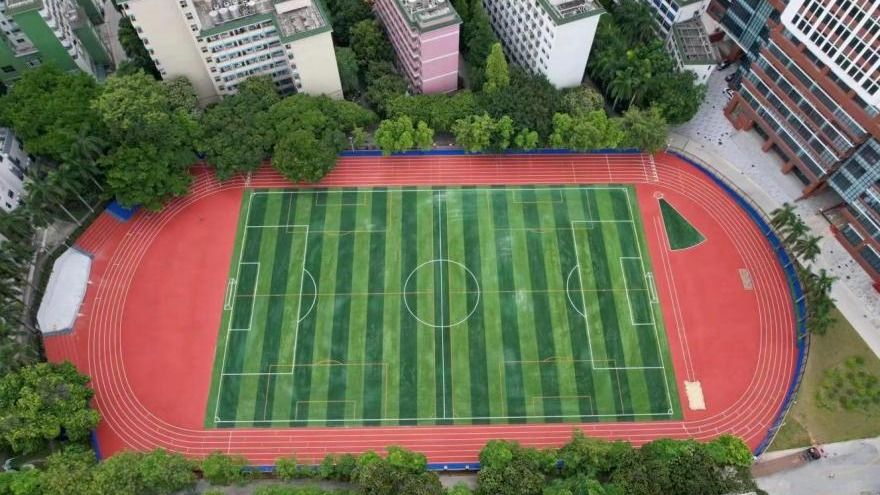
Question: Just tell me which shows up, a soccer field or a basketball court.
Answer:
soccer field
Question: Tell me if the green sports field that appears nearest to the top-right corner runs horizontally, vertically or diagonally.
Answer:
diagonally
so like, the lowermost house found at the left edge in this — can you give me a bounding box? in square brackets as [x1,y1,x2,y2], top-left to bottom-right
[0,140,37,213]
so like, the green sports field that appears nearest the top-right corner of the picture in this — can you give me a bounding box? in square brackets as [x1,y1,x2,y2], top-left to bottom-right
[656,193,708,250]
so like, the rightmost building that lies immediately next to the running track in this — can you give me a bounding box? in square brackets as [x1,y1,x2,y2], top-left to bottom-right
[691,0,880,282]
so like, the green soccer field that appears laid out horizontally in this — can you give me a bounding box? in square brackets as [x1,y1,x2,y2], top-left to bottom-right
[204,184,683,428]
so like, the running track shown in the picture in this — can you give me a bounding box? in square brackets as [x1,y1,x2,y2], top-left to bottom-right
[72,152,798,472]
